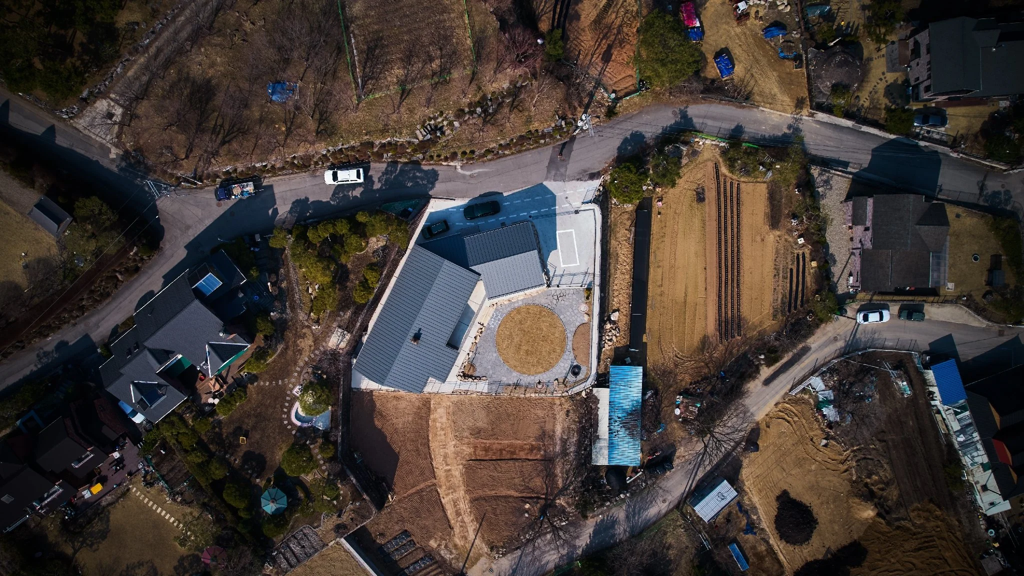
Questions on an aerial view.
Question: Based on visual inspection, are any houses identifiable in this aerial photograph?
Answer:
Yes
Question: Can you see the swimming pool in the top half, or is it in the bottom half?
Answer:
bottom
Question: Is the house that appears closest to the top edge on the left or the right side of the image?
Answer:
right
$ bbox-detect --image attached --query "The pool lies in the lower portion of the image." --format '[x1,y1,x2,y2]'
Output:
[292,385,331,430]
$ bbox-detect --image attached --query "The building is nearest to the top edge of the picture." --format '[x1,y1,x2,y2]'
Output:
[909,17,1024,102]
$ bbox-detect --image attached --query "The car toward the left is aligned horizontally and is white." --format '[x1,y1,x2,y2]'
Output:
[323,166,363,185]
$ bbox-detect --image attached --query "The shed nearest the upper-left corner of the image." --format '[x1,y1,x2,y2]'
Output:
[28,196,77,237]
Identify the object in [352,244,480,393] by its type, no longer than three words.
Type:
house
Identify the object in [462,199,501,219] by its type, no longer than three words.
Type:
car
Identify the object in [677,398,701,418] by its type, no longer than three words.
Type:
shed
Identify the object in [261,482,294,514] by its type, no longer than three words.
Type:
gazebo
